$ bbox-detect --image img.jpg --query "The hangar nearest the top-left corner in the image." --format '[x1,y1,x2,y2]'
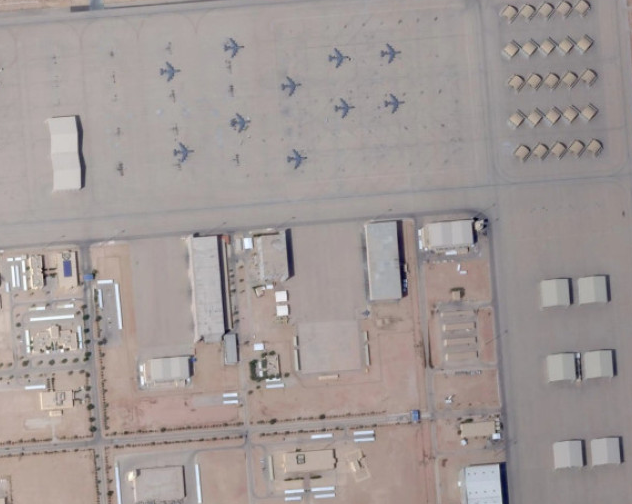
[48,116,81,190]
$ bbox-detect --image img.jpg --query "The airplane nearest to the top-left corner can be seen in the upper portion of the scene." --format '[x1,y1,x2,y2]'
[159,62,180,81]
